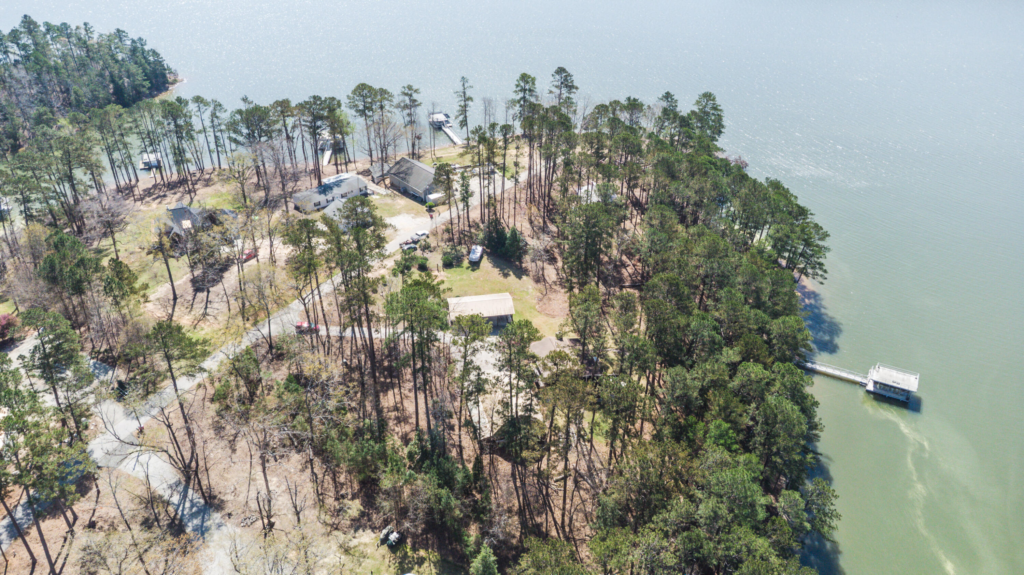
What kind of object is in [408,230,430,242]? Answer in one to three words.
vehicle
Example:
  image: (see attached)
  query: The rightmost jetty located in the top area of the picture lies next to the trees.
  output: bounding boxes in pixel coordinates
[428,113,462,143]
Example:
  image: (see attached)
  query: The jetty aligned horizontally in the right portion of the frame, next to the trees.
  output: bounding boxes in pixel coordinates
[800,359,919,410]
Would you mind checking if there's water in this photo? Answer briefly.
Yes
